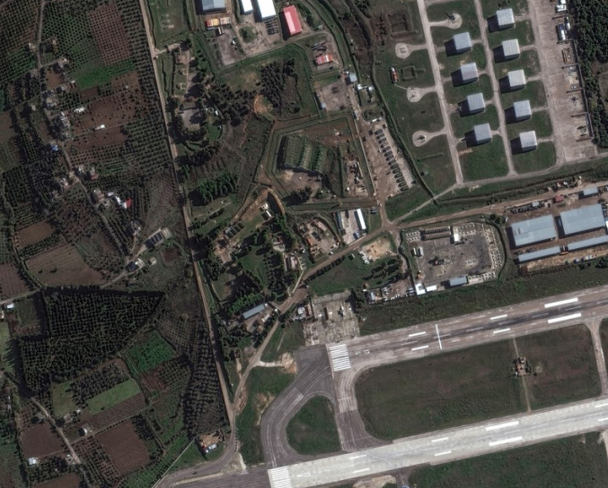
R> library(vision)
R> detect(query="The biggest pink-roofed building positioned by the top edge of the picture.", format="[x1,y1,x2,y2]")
[283,5,302,38]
